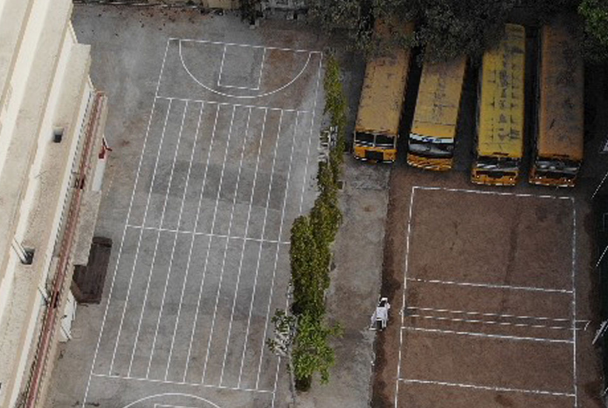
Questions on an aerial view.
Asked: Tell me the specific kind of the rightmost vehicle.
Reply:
bus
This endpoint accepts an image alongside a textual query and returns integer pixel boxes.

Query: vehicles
[350,1,418,166]
[373,293,392,332]
[404,5,463,174]
[471,26,526,193]
[527,27,585,196]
